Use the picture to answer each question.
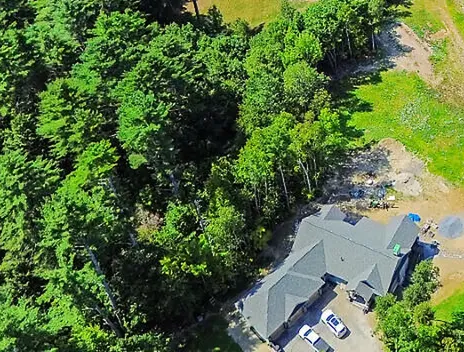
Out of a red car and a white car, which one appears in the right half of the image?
white car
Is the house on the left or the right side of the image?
right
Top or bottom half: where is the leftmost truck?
bottom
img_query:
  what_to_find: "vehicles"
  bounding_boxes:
[298,320,332,352]
[321,307,349,337]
